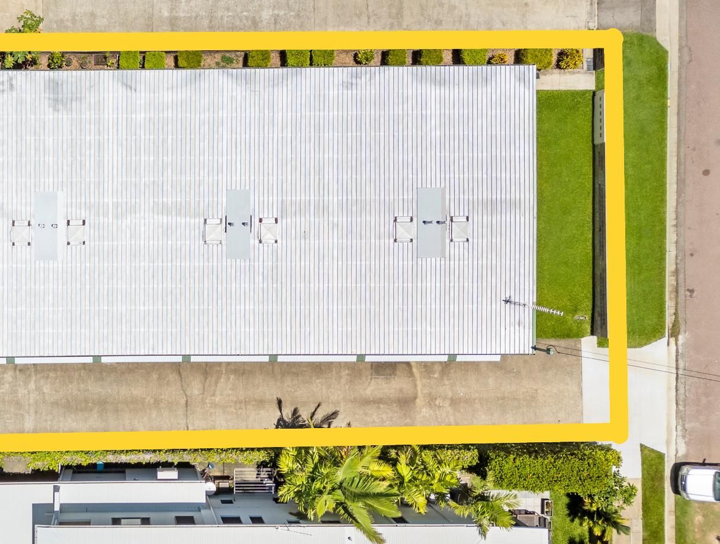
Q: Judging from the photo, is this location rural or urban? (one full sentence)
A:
From above, the setting appears urban.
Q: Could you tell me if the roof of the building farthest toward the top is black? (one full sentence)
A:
No, from above the roof of the building farthest toward the top looks white.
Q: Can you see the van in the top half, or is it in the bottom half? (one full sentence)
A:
The van sits in the bottom half of the picture.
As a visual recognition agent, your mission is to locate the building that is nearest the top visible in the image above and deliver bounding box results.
[0,61,536,364]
